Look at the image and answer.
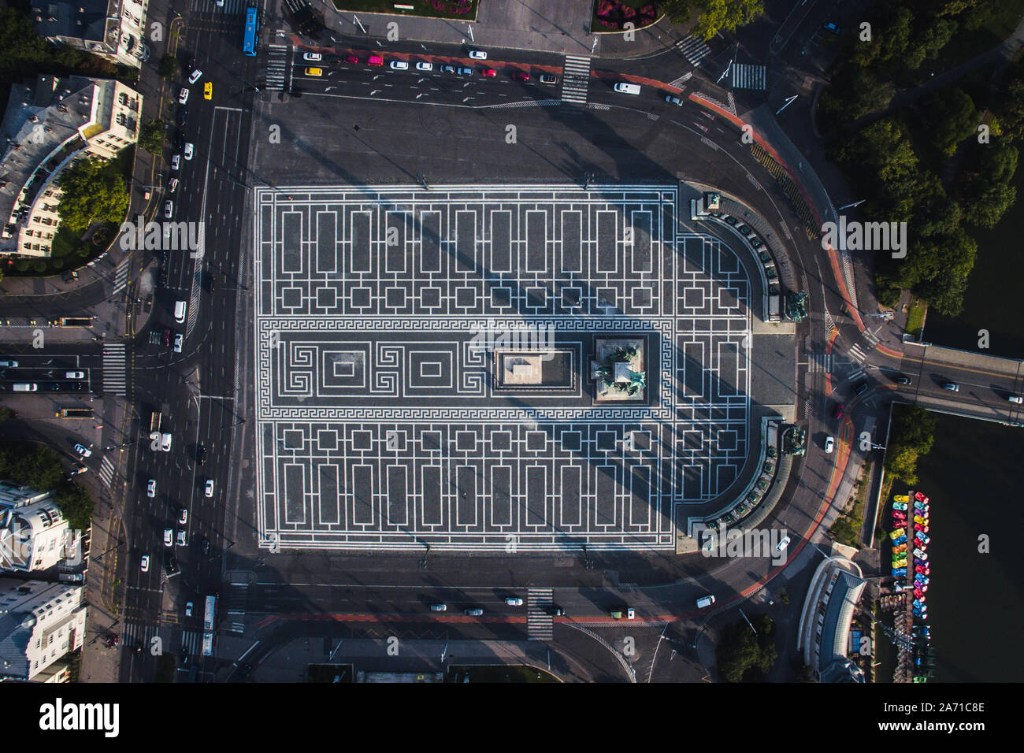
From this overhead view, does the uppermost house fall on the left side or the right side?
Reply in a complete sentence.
It is on the left.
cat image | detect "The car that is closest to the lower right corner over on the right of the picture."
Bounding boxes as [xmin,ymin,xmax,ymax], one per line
[774,534,791,553]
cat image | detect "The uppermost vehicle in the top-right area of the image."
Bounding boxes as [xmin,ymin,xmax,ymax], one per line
[822,22,841,36]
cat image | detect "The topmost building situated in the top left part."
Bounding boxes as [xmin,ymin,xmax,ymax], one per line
[31,0,151,67]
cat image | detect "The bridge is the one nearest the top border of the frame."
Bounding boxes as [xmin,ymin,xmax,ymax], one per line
[912,342,1024,428]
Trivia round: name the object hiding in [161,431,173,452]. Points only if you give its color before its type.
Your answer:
white vehicle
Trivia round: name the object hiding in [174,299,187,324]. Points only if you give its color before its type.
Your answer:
white vehicle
